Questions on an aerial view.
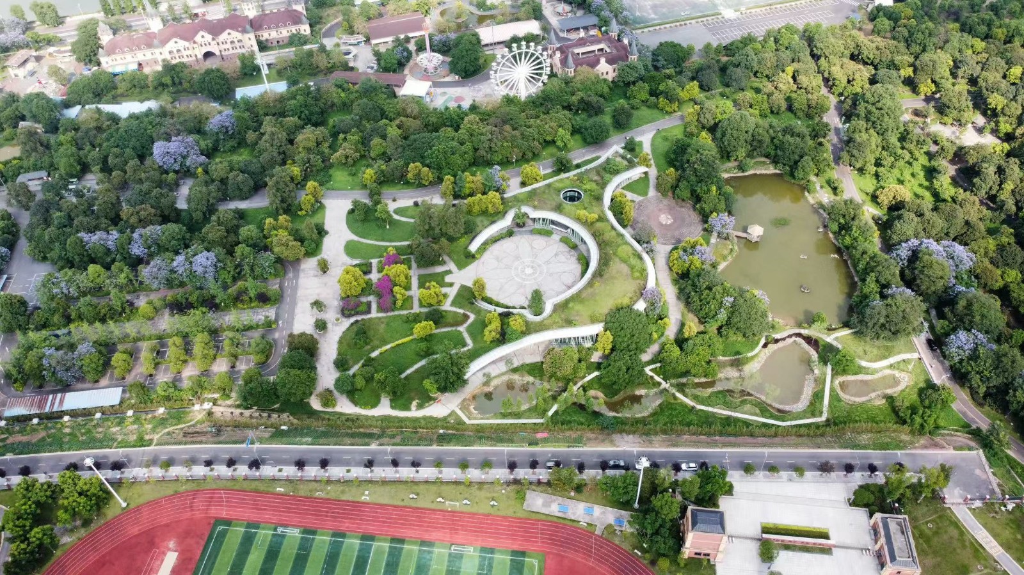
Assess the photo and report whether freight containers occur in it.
No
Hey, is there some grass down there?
Yes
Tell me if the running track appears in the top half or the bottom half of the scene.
bottom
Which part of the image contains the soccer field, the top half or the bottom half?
bottom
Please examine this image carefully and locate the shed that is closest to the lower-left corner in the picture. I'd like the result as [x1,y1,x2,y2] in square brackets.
[3,386,123,421]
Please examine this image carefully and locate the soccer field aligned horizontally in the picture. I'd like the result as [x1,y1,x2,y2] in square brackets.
[194,520,545,575]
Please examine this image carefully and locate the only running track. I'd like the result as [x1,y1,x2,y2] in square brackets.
[43,489,654,575]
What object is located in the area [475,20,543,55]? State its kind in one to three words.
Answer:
shed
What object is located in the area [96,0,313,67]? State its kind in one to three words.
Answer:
building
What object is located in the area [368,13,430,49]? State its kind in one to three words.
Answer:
shed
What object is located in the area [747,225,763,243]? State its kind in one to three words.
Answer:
gazebo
